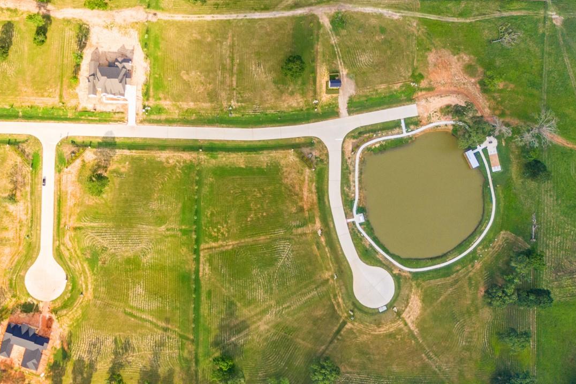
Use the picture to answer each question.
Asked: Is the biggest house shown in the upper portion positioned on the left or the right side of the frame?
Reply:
left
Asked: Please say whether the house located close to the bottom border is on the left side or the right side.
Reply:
left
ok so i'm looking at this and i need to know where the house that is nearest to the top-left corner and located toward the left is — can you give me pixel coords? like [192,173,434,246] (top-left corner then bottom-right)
[88,57,132,98]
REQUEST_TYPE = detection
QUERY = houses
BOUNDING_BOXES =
[88,57,132,98]
[0,321,54,373]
